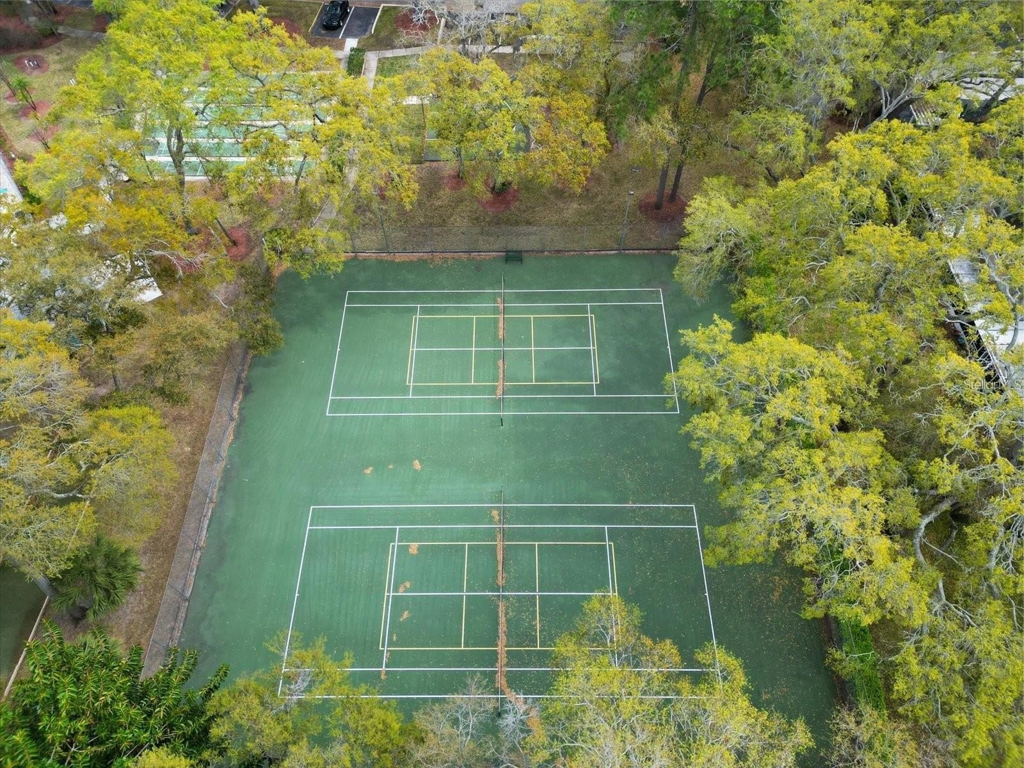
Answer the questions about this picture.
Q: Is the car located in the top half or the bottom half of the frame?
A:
top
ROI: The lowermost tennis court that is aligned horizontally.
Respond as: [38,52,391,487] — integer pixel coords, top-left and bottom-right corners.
[253,498,748,706]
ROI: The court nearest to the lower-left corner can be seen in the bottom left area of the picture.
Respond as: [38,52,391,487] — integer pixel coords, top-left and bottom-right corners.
[0,527,79,704]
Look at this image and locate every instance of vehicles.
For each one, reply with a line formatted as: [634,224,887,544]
[317,0,342,29]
